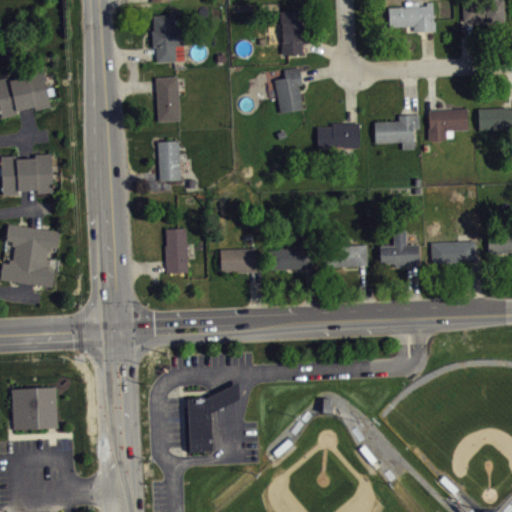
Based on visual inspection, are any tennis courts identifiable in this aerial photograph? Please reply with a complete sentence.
No, the scene contains no tennis court.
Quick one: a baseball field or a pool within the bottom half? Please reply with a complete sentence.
Visible within the bottom half is a baseball field.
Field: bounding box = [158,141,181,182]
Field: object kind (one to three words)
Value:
house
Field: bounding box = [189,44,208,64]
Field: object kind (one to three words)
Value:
swimming pool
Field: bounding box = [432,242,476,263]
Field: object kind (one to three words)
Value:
house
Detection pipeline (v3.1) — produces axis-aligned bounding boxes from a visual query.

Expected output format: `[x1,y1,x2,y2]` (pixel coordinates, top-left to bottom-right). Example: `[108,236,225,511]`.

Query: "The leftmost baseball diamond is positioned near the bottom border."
[262,430,384,512]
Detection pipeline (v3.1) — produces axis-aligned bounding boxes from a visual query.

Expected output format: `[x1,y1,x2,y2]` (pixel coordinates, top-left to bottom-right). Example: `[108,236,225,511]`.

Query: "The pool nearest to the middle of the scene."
[236,94,254,116]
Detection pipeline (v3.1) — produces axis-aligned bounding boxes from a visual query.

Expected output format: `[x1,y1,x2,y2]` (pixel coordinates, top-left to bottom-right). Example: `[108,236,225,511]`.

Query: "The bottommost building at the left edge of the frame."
[12,388,58,431]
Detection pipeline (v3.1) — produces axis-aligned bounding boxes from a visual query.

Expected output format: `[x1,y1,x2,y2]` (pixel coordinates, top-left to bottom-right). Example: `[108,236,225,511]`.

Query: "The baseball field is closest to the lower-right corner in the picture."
[384,366,512,510]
